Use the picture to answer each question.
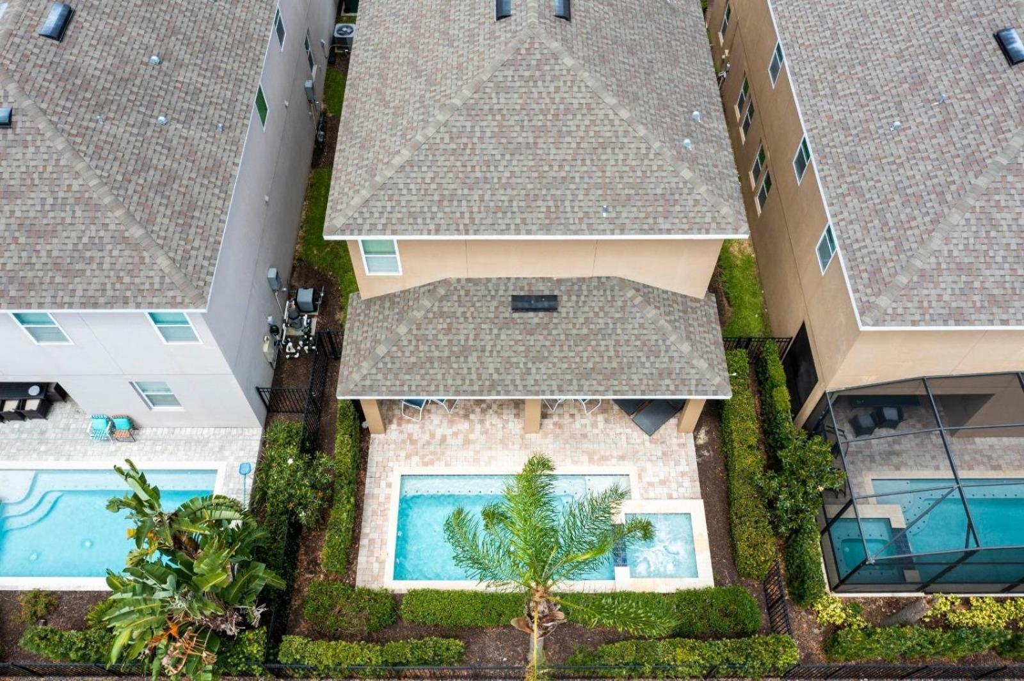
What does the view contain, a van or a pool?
pool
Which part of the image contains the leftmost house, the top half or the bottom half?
top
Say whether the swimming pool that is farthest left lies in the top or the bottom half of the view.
bottom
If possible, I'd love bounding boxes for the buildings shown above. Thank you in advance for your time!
[318,0,751,434]
[0,0,340,427]
[709,0,1024,433]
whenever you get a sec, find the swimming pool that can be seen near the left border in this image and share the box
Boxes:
[0,461,230,589]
